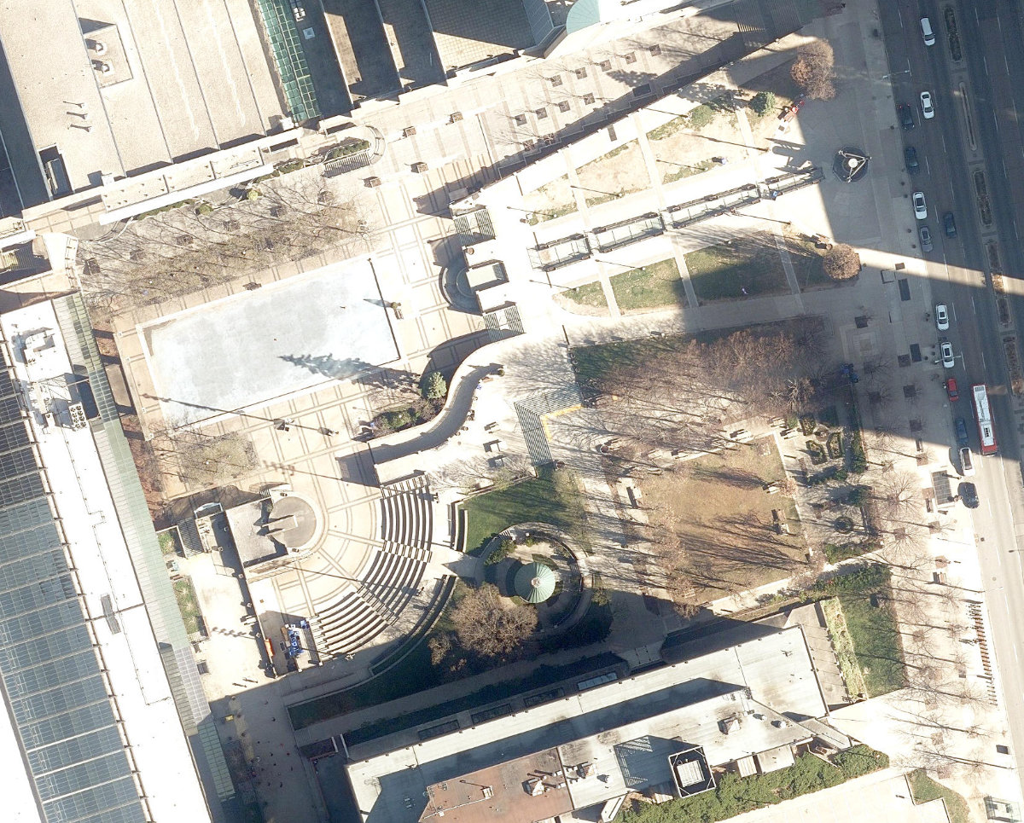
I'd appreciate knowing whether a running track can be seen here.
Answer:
No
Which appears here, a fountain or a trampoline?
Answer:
fountain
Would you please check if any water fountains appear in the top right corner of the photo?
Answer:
Yes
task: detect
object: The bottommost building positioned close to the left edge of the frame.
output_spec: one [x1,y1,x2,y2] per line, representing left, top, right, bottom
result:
[0,287,244,823]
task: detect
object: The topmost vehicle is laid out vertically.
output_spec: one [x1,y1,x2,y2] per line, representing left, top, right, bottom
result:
[920,17,936,46]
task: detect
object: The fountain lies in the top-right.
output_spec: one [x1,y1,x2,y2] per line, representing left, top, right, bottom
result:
[833,147,872,182]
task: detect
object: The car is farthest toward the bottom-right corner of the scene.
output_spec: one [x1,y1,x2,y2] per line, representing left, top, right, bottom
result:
[963,481,978,508]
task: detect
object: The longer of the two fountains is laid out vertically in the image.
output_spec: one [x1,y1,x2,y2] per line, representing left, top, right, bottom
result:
[439,249,470,312]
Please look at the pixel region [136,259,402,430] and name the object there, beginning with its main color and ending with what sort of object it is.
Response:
white sports court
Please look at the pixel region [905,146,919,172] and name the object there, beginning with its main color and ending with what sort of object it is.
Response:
black car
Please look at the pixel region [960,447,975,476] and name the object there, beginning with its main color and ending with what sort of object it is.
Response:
white car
